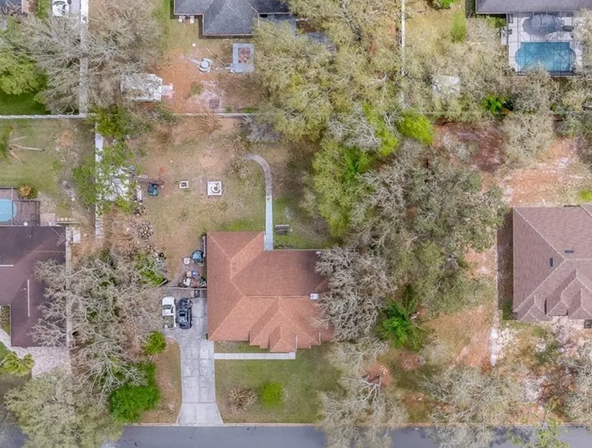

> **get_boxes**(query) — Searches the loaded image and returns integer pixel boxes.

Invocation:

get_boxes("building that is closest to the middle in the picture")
[206,230,335,352]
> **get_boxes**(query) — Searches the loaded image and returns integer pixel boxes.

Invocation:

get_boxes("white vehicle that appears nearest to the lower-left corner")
[161,295,179,328]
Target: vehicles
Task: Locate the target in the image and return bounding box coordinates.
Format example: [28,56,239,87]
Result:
[176,296,195,328]
[52,0,73,25]
[161,295,179,328]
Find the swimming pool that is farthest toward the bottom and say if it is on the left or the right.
left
